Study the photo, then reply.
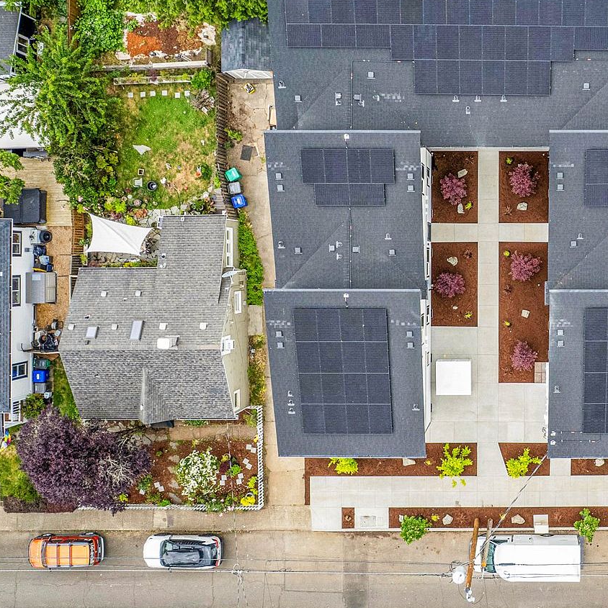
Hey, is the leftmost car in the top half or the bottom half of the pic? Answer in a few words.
bottom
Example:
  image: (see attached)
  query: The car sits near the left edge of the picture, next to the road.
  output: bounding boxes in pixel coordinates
[29,530,108,572]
